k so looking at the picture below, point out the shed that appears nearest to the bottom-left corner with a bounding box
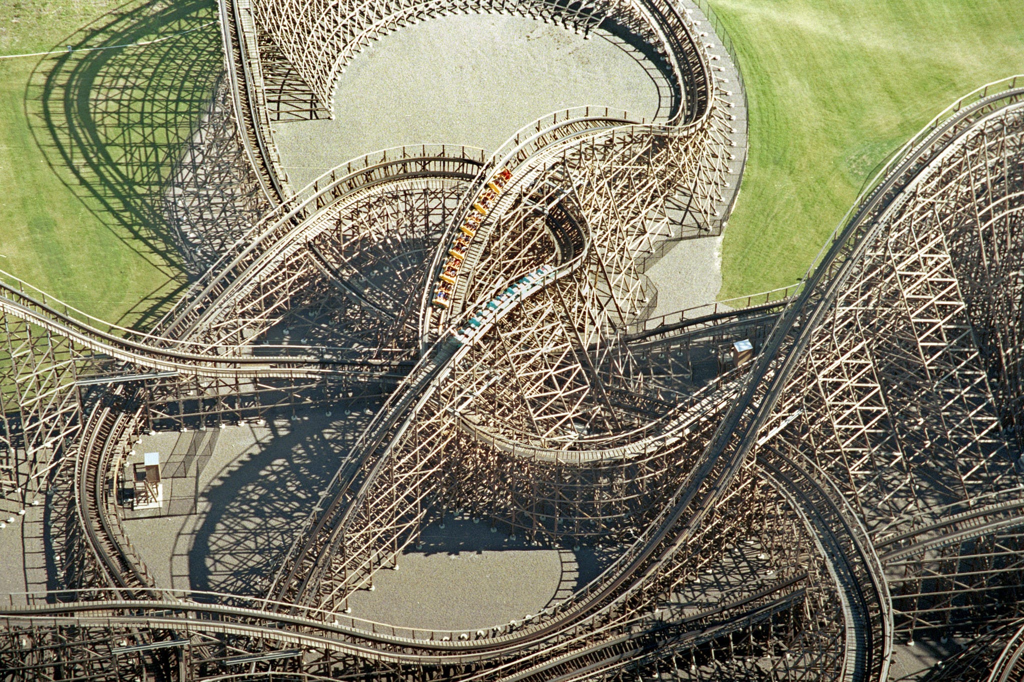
[130,451,166,507]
